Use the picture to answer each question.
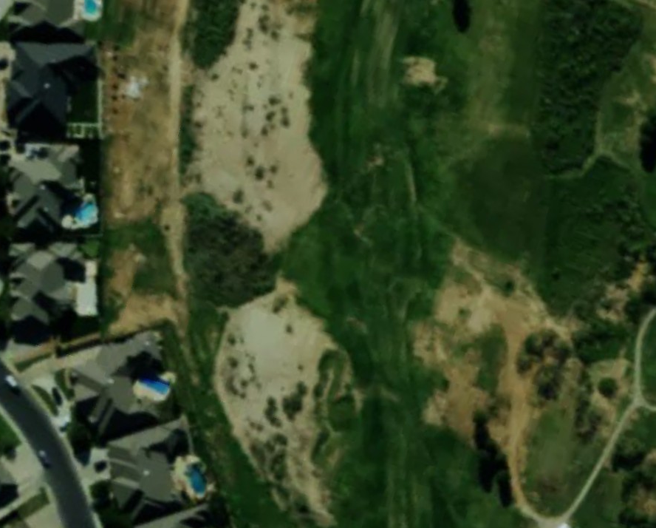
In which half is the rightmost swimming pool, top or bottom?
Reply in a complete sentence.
You can find the rightmost swimming pool in the bottom half.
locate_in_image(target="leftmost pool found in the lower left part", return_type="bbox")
[139,371,176,399]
